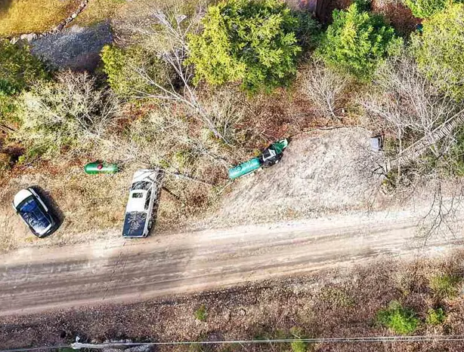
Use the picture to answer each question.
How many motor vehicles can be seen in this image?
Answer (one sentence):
In total, there are 3 motor vehicles in the scene.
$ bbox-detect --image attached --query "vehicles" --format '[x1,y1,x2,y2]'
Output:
[256,134,298,173]
[122,170,166,246]
[16,188,60,245]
